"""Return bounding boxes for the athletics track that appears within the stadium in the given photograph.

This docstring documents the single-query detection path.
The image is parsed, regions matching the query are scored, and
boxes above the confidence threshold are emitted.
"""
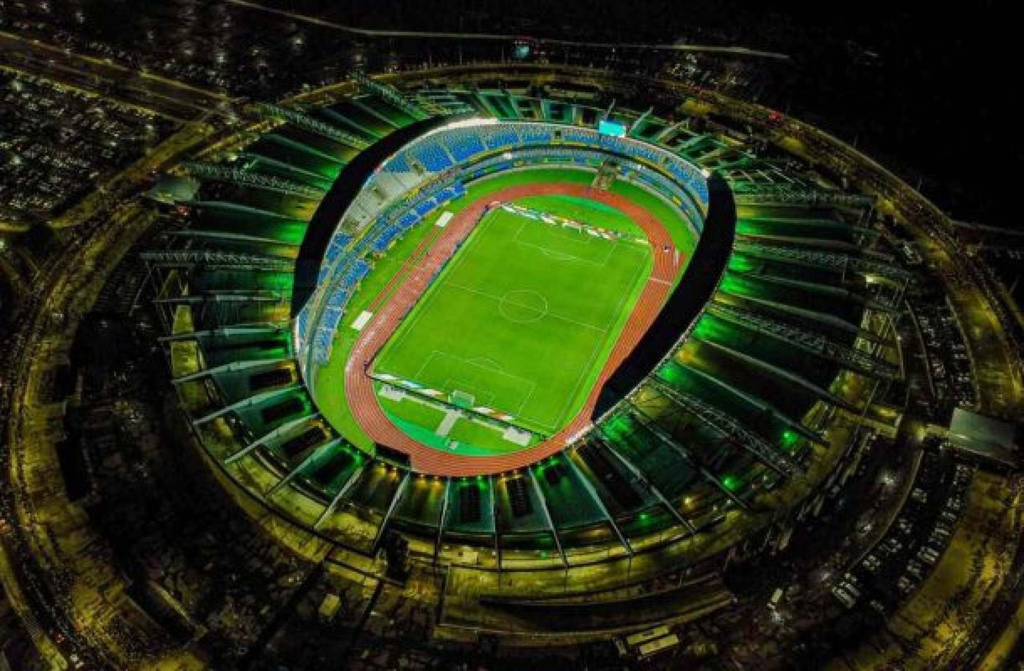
[346,180,693,475]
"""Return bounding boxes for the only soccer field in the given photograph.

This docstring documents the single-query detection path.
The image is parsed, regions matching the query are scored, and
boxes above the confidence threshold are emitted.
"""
[370,205,657,435]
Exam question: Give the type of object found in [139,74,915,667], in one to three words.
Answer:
stadium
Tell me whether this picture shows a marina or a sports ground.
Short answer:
sports ground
